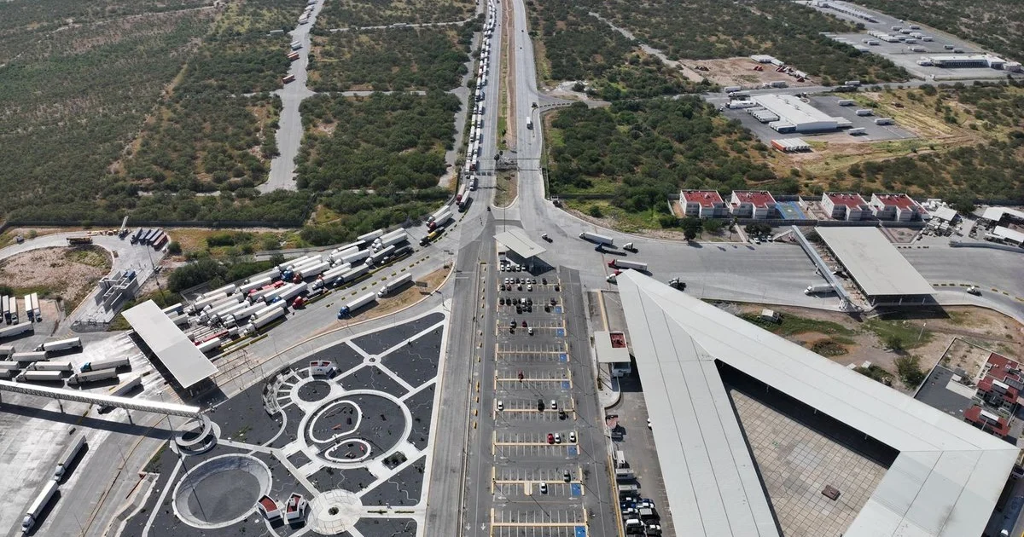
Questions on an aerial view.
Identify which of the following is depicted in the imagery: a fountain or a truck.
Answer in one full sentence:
The image shows a truck.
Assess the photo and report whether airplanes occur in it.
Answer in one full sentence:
No, no airplane is visible in the scene.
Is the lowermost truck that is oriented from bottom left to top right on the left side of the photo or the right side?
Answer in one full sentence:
You can find the lowermost truck that is oriented from bottom left to top right on the left side of the picture.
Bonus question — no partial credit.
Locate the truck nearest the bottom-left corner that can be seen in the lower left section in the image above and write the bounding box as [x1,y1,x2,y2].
[20,481,60,535]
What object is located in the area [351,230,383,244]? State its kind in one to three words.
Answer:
vehicle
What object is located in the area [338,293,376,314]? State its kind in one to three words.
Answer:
truck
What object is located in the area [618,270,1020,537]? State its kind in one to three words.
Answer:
building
